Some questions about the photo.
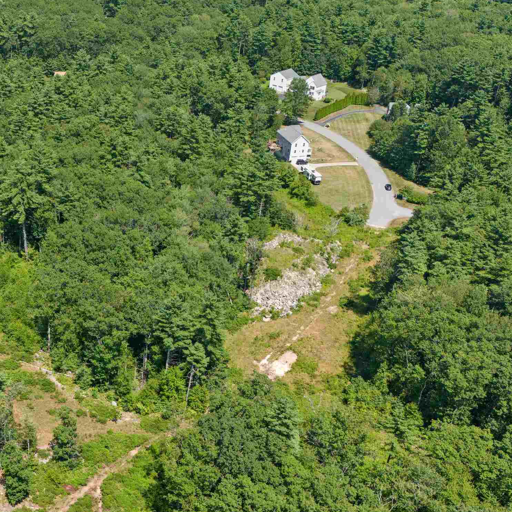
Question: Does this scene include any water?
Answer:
No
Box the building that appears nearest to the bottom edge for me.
[277,125,313,161]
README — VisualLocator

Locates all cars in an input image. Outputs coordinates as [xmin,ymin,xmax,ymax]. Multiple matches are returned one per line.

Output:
[383,184,394,190]
[295,157,308,164]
